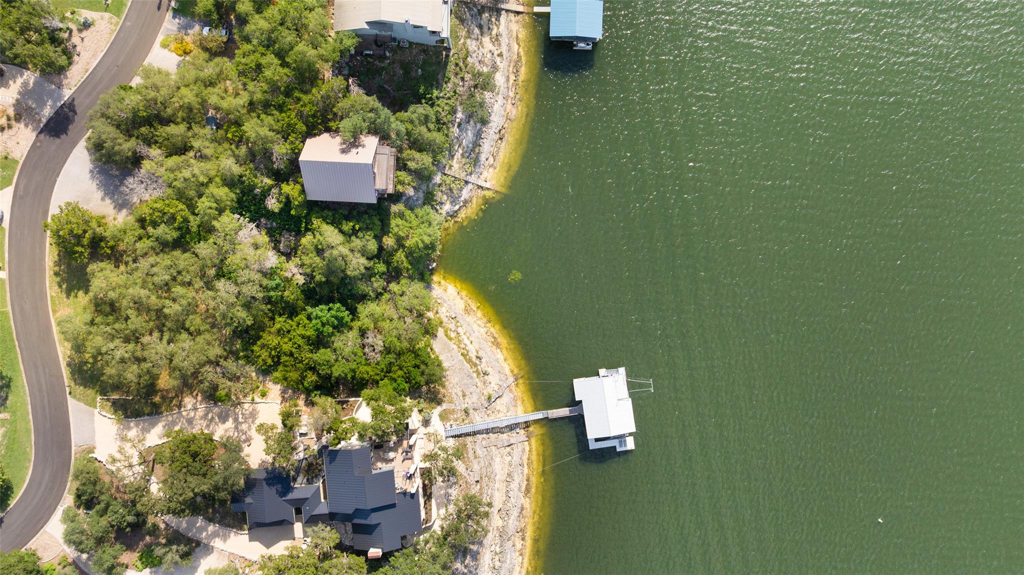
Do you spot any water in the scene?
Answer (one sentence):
Yes, water can be seen from above here.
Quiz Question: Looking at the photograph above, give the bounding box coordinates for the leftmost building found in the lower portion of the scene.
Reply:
[231,468,329,527]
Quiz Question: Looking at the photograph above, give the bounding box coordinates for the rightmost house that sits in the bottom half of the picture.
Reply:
[323,444,422,560]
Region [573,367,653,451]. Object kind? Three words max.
pier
